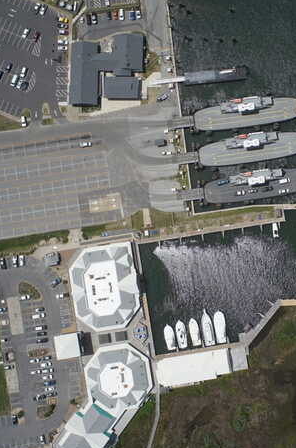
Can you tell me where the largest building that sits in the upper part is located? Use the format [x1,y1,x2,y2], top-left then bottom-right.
[69,33,144,106]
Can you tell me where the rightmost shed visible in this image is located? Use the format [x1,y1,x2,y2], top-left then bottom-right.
[230,346,248,371]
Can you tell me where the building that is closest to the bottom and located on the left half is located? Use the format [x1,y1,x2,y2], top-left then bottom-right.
[58,396,130,448]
